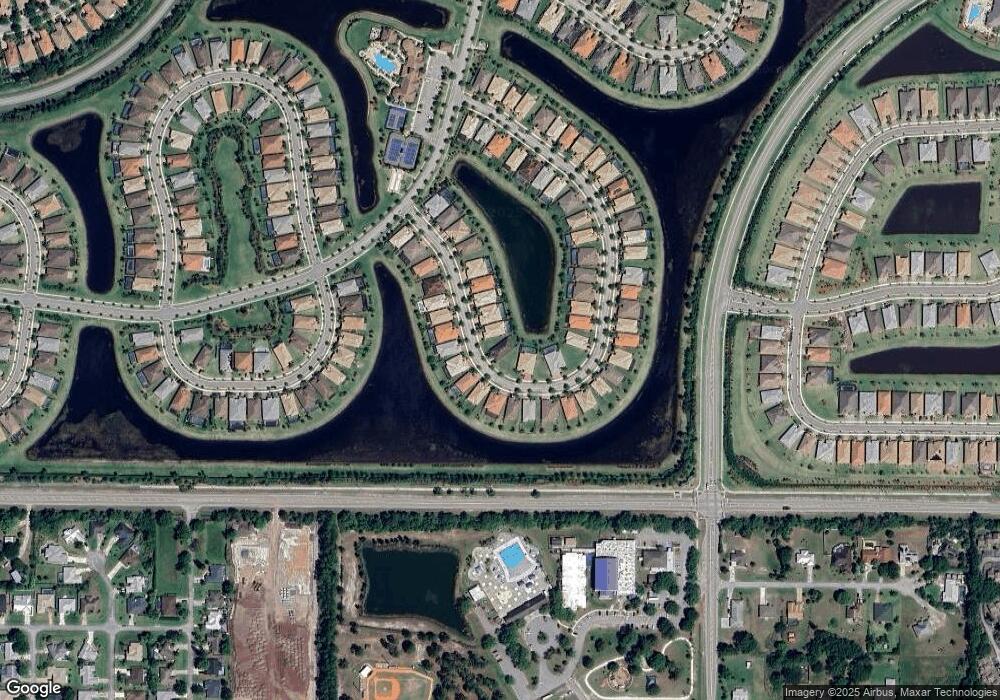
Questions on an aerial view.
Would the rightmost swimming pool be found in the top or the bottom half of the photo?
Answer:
top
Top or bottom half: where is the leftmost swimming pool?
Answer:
top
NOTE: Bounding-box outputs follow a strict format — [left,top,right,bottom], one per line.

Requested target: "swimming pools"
[863,539,876,549]
[468,532,551,621]
[962,0,989,32]
[363,41,404,79]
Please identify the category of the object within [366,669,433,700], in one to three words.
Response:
baseball field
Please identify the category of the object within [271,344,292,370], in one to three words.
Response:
house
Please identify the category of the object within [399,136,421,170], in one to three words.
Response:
tennis court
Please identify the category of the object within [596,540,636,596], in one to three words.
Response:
building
